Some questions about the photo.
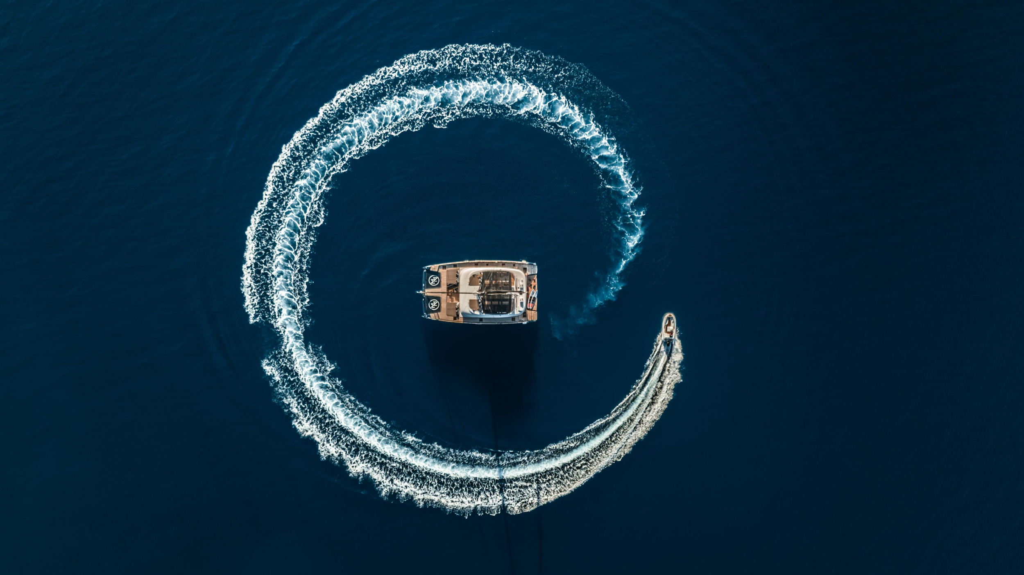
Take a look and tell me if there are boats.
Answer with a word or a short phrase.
Yes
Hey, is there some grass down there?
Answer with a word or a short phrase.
No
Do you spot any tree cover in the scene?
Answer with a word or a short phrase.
No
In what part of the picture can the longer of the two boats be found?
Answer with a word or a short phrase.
center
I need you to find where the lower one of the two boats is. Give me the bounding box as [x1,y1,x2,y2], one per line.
[662,313,676,346]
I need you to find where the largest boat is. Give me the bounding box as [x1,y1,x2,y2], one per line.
[416,260,537,324]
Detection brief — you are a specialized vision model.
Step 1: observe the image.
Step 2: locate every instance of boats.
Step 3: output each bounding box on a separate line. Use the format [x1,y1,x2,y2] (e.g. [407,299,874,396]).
[416,260,537,324]
[662,313,676,346]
